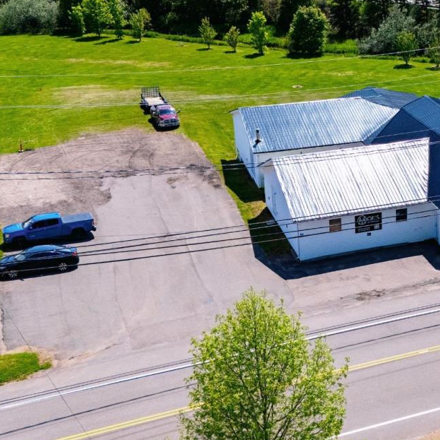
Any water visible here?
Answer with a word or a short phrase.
No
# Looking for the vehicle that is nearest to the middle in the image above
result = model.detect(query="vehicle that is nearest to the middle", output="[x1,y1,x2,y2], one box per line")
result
[149,100,178,128]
